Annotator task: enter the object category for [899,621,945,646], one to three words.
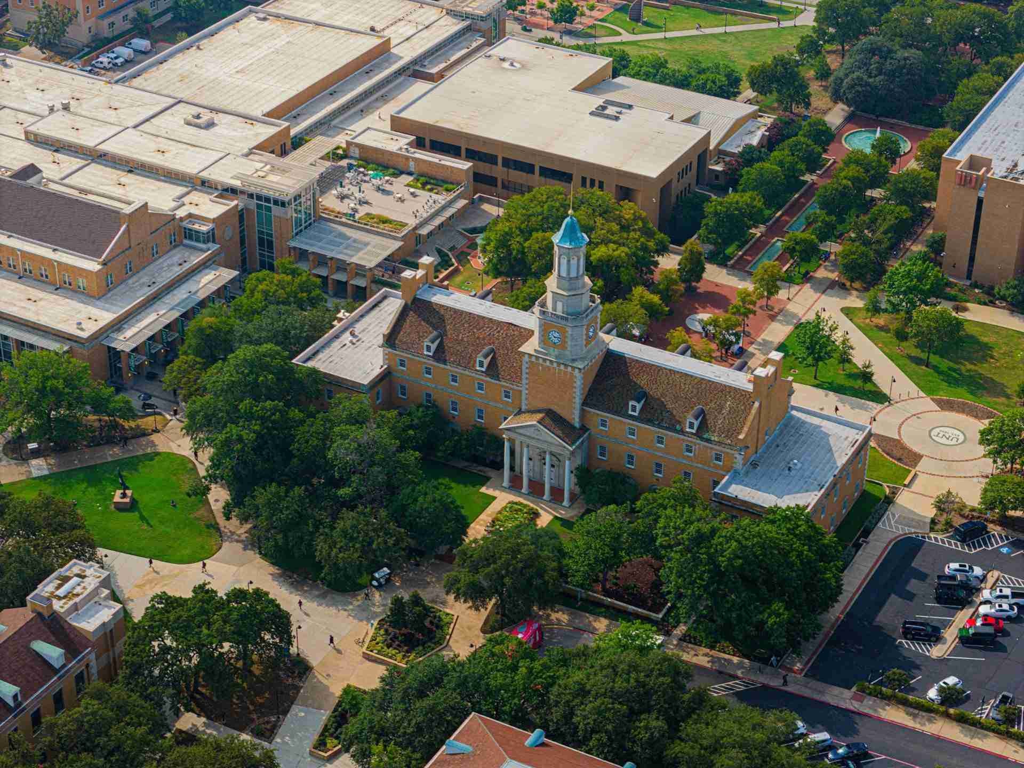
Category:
car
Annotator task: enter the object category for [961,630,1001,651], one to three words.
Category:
car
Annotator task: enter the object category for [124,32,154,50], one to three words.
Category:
vehicle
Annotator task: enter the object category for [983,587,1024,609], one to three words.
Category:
truck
